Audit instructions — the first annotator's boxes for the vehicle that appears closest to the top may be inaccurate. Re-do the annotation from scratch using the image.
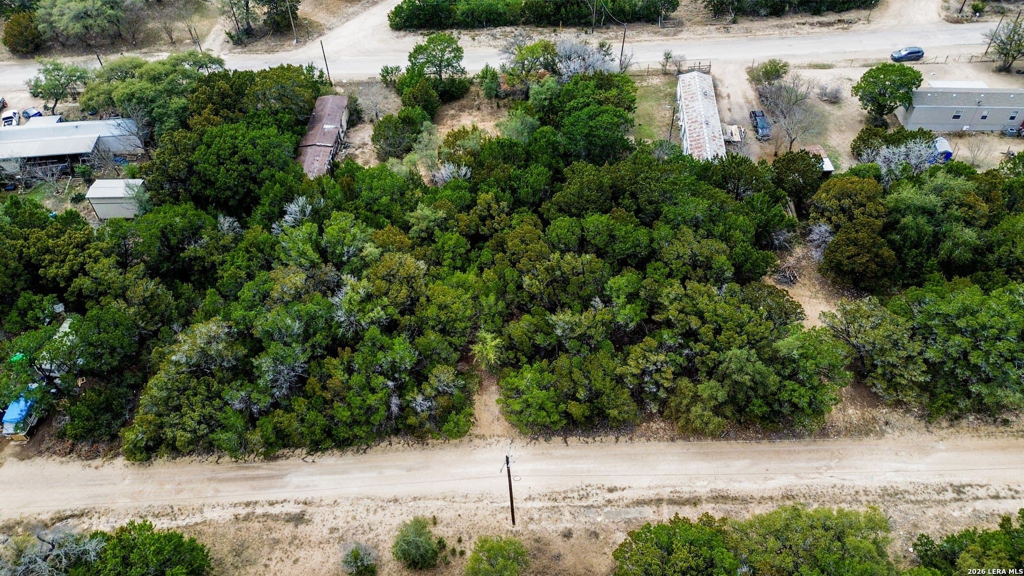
[888,42,929,61]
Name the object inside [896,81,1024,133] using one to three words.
house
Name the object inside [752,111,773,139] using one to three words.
truck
